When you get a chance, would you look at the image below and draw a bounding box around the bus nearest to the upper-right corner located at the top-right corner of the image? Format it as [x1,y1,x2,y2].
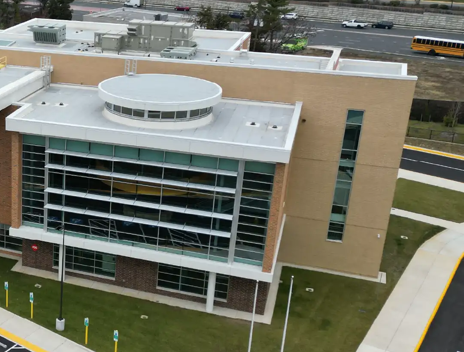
[413,33,464,62]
